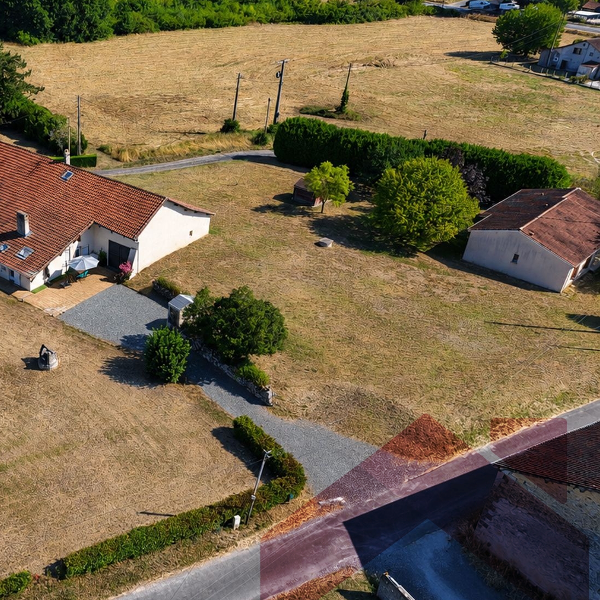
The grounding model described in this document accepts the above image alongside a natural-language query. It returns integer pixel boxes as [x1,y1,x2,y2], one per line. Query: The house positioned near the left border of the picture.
[0,138,215,290]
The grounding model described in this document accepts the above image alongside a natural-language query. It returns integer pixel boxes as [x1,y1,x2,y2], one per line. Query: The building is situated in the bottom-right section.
[473,423,600,600]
